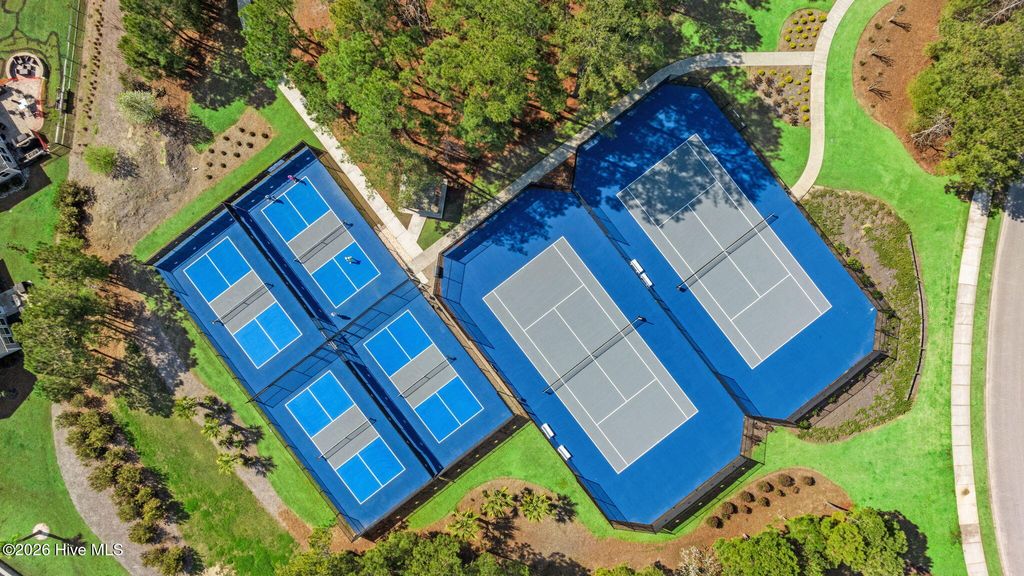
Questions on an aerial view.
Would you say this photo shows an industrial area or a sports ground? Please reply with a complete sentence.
What you see here is a sports ground.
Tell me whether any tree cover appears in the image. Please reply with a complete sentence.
Yes, the picture does contain tree cover.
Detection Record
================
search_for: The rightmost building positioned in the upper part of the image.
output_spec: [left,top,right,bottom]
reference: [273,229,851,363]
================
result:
[403,173,447,218]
